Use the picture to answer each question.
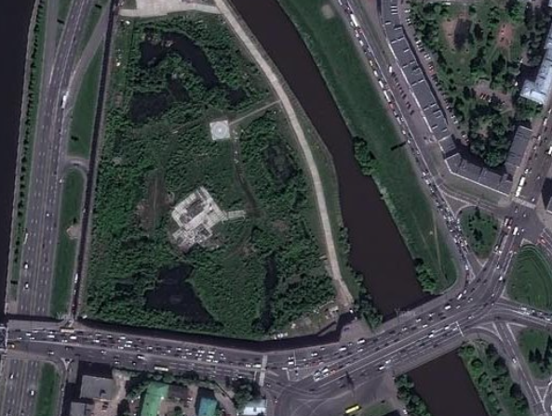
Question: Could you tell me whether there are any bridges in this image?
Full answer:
Yes, there's a bridge down there.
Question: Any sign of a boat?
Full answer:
No, this view has no boat in it.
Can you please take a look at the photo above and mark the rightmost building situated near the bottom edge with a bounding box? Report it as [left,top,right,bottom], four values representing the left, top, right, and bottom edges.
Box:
[243,400,266,416]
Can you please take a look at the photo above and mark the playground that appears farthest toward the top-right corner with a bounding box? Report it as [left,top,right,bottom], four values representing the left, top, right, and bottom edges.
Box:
[496,20,515,48]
